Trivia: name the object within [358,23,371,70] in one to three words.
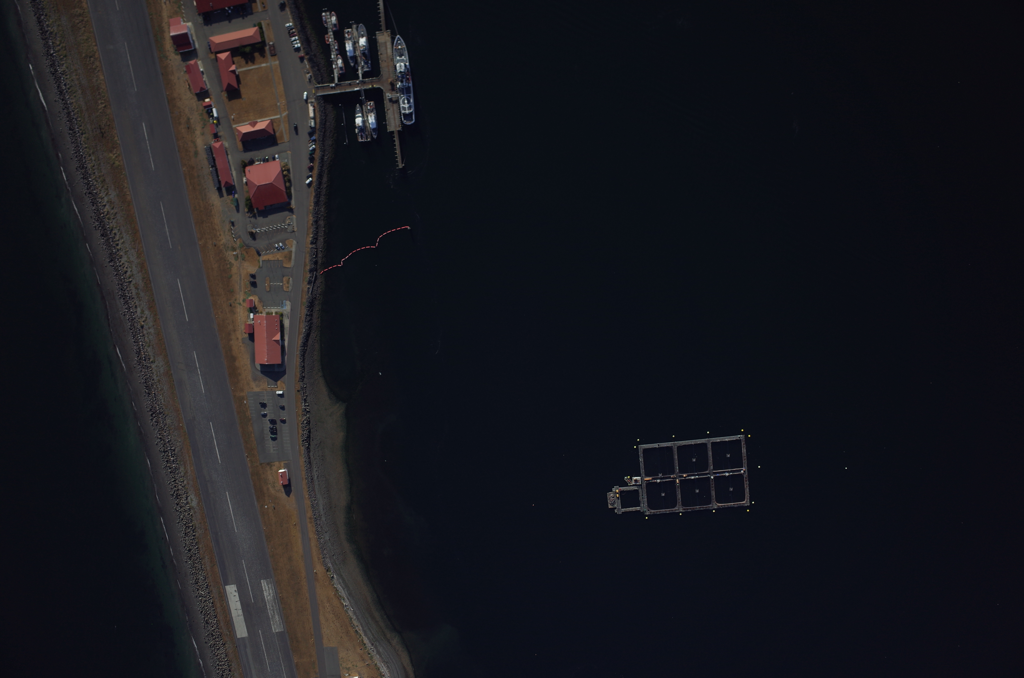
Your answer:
boat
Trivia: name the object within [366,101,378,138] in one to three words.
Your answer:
boat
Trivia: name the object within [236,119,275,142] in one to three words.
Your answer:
house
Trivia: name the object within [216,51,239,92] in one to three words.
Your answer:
building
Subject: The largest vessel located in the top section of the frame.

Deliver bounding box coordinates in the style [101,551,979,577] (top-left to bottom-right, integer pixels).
[393,35,415,124]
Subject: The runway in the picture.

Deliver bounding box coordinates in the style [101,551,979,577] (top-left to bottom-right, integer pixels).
[87,0,297,678]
